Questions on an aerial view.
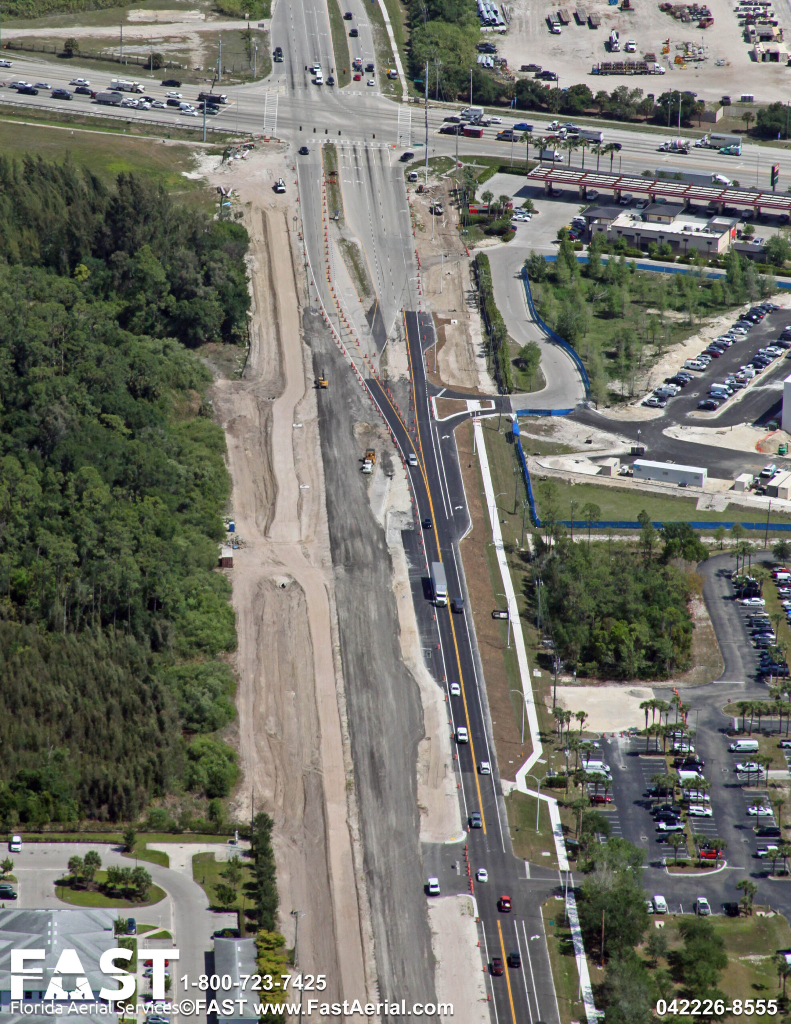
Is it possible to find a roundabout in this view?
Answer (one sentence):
No, there is no roundabout in the image.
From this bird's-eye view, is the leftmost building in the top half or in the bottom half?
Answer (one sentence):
The leftmost building sits in the bottom half of the picture.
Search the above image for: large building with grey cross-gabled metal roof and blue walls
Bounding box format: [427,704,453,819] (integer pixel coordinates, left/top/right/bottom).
[0,908,122,1024]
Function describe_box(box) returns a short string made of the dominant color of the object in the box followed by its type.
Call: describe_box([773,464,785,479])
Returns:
white vehicle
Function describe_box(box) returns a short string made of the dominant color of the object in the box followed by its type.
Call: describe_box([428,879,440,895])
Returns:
white vehicle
